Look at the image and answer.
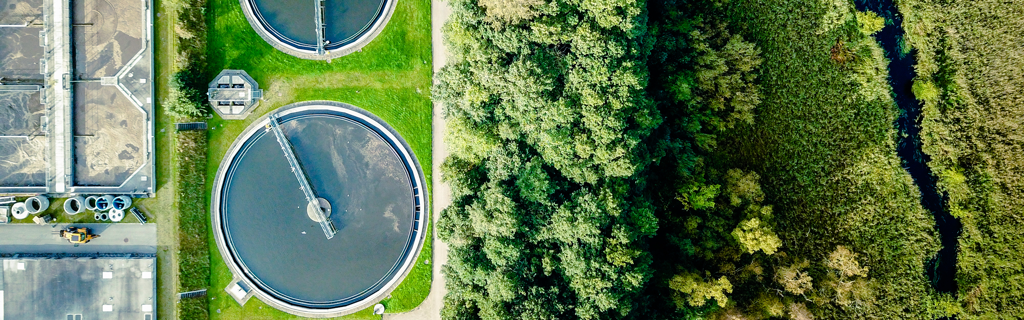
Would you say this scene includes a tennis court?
No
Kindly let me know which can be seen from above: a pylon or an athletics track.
athletics track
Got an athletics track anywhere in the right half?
No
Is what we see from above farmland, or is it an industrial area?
industrial area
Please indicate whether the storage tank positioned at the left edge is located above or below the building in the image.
above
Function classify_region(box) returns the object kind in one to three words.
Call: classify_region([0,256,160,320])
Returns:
building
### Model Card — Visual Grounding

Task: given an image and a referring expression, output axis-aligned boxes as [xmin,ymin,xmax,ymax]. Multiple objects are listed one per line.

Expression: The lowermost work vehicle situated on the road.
[49,227,104,248]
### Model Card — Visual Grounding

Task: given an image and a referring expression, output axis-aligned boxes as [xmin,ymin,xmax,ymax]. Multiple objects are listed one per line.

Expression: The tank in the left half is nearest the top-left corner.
[0,0,162,195]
